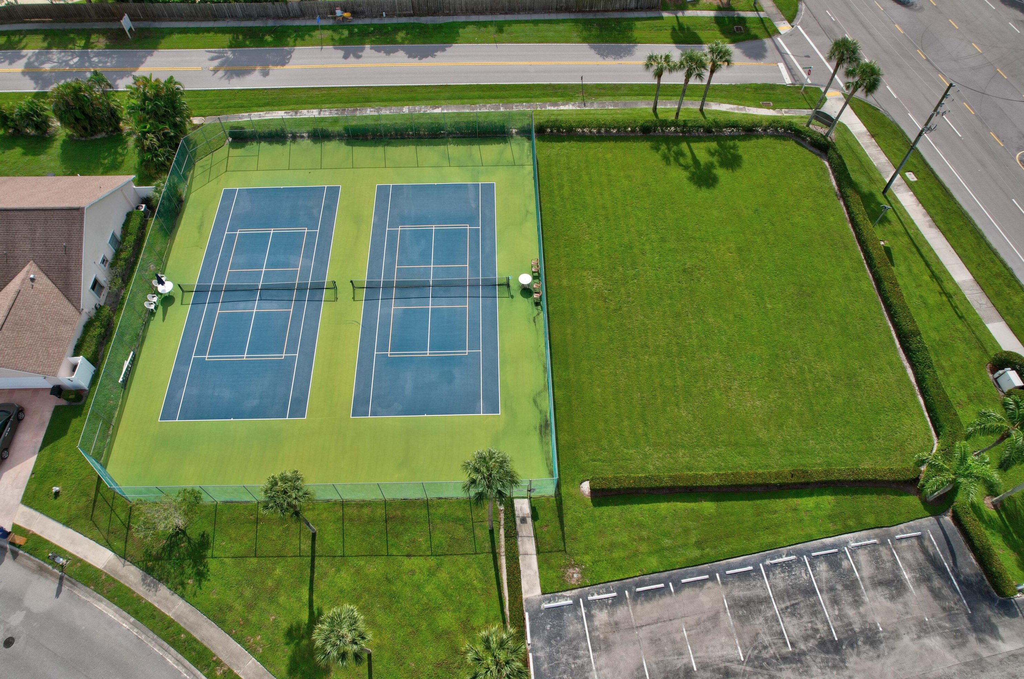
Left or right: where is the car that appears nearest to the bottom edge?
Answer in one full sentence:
You can find the car that appears nearest to the bottom edge on the left side of the picture.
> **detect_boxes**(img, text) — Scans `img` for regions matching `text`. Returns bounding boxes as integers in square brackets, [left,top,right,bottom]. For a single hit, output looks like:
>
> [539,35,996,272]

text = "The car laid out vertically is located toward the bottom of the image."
[0,403,21,455]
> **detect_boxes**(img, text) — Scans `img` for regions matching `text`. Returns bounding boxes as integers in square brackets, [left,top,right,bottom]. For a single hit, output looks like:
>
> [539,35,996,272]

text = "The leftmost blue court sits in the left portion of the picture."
[157,185,341,422]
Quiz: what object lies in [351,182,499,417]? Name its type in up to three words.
tennis court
